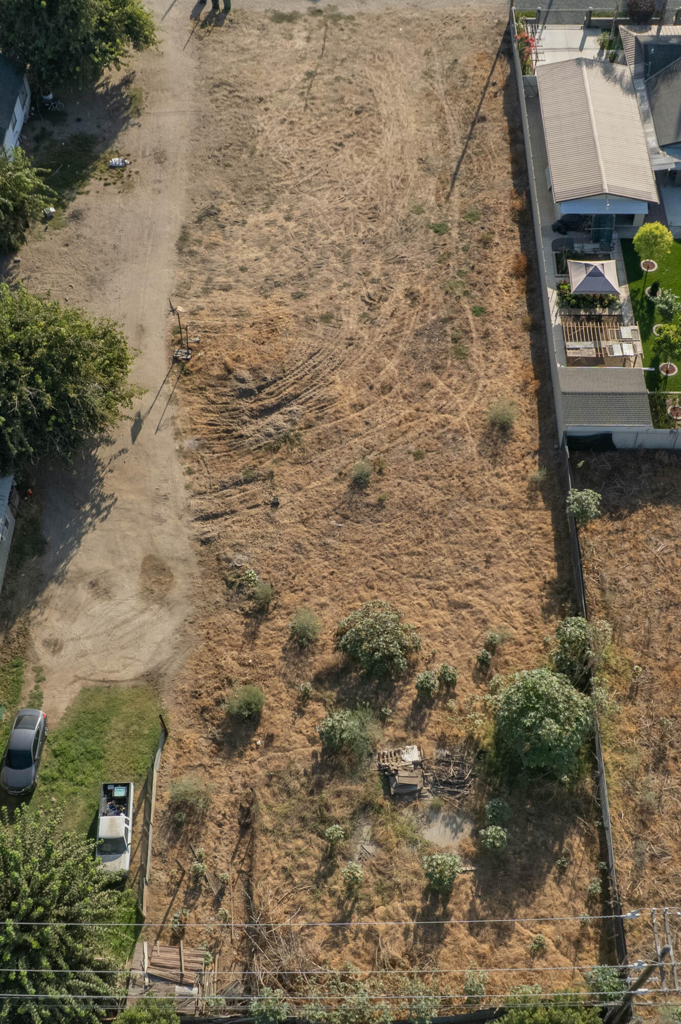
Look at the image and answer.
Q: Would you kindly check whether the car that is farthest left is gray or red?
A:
gray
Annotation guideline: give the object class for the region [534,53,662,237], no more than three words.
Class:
building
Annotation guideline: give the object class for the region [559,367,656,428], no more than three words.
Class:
shed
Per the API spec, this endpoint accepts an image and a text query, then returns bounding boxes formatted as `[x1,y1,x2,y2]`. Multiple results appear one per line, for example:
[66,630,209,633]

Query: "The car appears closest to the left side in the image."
[0,710,50,799]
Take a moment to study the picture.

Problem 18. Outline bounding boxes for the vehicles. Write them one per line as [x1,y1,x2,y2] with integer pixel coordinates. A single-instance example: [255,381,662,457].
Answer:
[91,783,137,886]
[0,710,50,799]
